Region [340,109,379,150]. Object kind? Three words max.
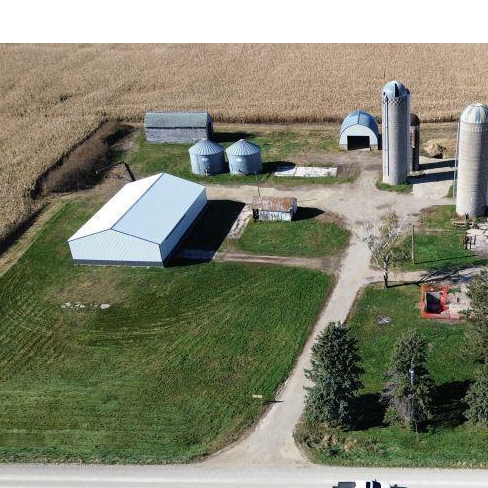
barn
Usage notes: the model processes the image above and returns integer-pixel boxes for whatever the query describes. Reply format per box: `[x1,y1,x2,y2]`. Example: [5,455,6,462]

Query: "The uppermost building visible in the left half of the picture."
[142,110,216,142]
